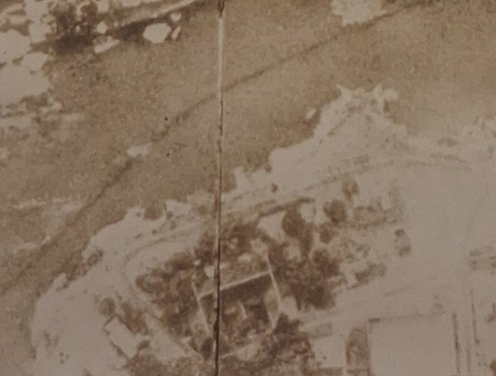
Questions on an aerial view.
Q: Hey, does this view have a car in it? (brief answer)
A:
No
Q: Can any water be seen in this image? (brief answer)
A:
Yes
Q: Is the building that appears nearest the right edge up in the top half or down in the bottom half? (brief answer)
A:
bottom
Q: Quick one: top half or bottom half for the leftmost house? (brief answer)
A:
bottom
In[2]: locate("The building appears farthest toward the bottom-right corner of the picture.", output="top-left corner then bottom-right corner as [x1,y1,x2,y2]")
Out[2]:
[369,314,458,376]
